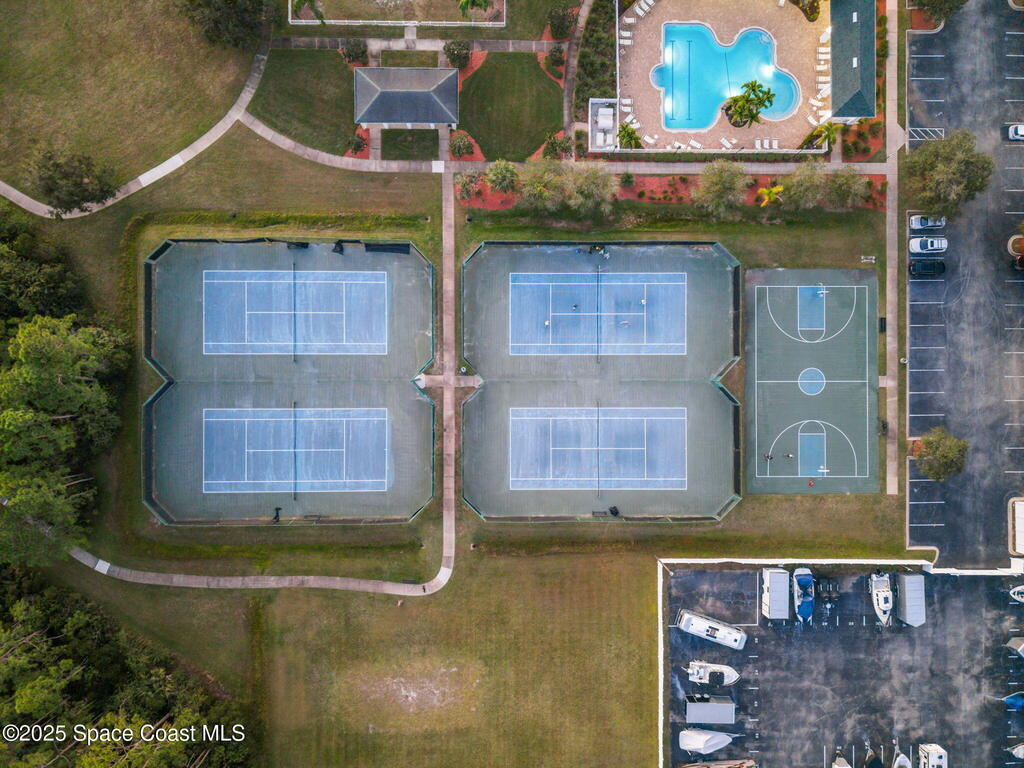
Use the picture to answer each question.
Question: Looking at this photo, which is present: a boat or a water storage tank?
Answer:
boat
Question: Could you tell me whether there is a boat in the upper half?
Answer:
No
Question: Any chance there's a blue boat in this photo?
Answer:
Yes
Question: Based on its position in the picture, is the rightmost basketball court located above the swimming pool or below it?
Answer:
below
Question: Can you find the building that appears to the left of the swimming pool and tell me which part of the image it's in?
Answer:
top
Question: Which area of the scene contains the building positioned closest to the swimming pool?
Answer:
top right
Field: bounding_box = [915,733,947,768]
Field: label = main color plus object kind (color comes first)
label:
white camper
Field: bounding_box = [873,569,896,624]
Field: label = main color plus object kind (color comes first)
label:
white boat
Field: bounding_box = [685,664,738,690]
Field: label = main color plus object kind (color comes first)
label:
white boat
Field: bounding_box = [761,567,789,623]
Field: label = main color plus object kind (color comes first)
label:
white trailer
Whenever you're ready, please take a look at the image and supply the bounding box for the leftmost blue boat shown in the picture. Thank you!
[794,569,814,623]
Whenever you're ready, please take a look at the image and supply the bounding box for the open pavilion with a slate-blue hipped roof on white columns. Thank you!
[354,67,460,130]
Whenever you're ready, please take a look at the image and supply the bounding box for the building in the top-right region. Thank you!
[826,0,876,133]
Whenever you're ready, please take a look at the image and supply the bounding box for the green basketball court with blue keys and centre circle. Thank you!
[745,268,879,494]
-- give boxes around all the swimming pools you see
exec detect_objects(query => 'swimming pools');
[648,20,804,133]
